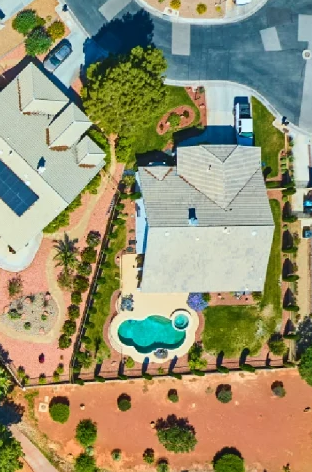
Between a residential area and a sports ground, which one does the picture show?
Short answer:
residential area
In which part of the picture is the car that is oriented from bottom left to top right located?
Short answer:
top left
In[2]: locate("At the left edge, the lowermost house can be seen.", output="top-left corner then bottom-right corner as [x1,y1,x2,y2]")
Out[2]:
[0,62,107,246]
